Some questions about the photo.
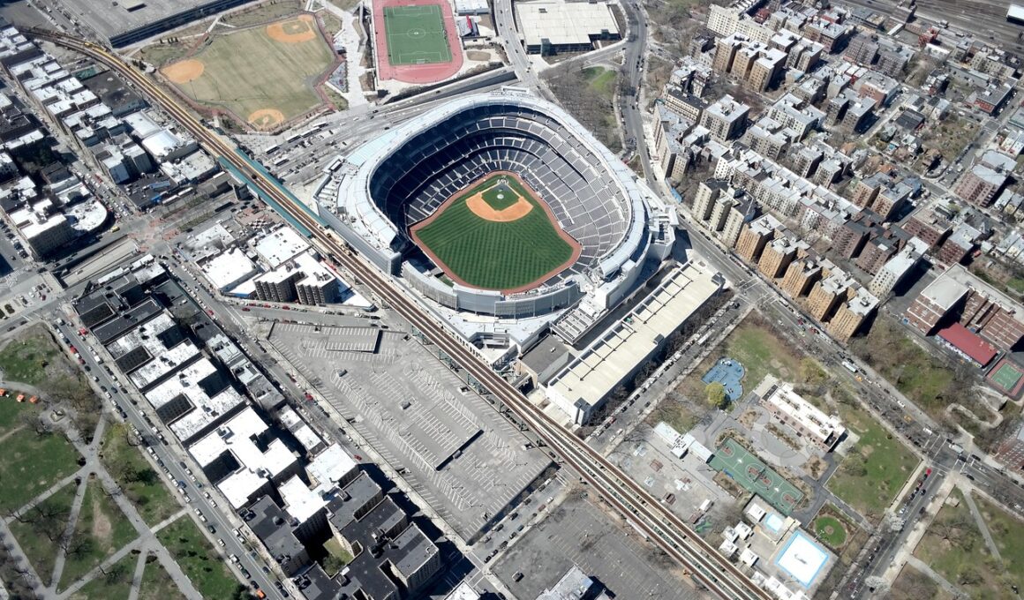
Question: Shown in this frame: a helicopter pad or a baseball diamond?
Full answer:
The image shows a baseball diamond.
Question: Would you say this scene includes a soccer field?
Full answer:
Yes, a soccer field is visible in the scene.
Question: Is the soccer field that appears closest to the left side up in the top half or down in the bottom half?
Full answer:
The top half of the photo is where the soccer field that appears closest to the left side is.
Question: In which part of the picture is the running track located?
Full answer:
You can find the running track in the top area of the picture.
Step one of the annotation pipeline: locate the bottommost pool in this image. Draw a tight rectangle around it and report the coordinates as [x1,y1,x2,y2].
[774,530,831,590]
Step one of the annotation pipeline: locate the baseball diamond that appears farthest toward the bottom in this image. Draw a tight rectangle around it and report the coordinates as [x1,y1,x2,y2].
[409,172,582,294]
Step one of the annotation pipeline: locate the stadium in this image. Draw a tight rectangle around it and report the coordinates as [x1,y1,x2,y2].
[313,84,679,358]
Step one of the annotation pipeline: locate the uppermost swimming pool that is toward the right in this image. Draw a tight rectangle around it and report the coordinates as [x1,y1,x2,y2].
[762,511,785,535]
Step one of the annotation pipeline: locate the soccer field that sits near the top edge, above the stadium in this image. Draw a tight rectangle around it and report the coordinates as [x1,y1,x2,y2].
[383,5,452,65]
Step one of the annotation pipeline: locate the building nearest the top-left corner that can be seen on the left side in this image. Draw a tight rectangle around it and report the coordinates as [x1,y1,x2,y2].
[0,26,39,75]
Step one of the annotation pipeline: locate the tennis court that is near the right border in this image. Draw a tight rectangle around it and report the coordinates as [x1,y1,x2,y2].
[986,358,1024,397]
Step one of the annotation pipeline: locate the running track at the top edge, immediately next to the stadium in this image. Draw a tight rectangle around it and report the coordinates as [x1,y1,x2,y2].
[372,0,463,83]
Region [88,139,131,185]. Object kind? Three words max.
building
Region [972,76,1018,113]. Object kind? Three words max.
building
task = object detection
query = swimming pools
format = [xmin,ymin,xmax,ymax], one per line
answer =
[762,511,785,535]
[774,530,831,590]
